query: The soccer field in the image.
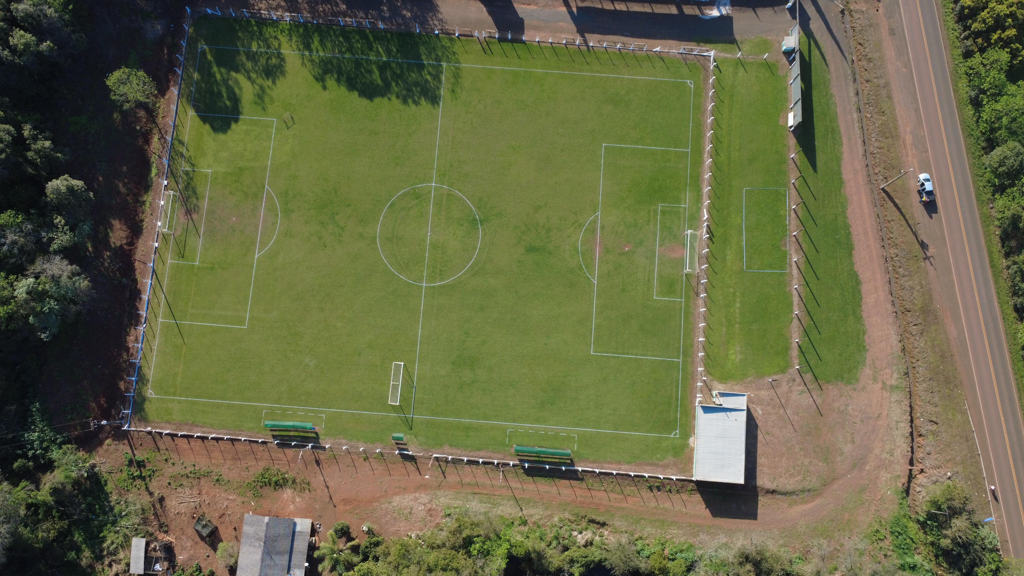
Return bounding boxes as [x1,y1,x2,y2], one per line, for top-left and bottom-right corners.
[129,12,712,478]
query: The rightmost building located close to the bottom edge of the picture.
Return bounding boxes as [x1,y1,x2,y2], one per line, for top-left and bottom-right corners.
[237,514,312,576]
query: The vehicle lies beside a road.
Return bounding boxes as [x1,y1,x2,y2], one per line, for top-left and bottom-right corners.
[916,174,936,202]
